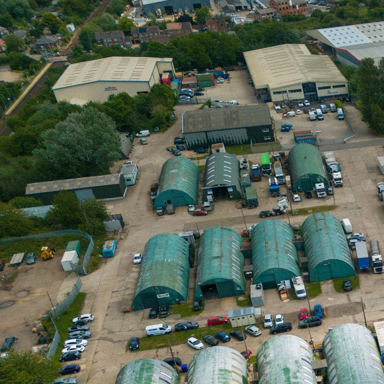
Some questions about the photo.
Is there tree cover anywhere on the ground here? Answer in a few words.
Yes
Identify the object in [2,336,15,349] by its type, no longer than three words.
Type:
vehicle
